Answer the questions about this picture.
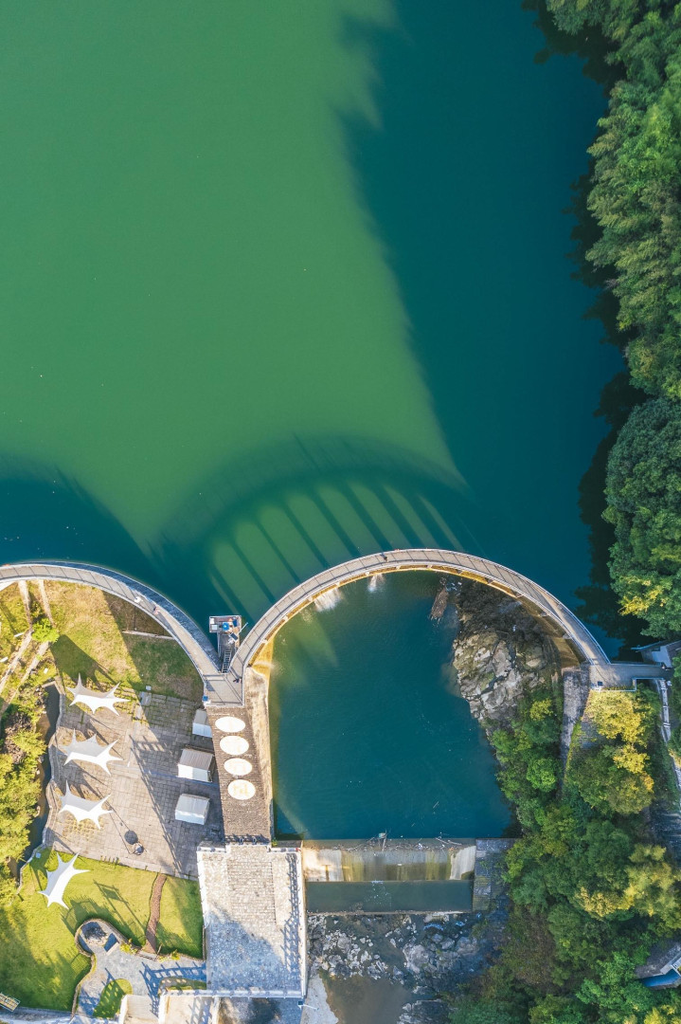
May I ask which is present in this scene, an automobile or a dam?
dam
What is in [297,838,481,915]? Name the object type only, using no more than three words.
dam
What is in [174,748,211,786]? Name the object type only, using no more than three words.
shed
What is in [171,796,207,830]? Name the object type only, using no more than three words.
shed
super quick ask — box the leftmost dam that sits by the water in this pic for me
[0,559,220,676]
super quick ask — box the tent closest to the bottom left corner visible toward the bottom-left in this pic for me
[37,845,93,909]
